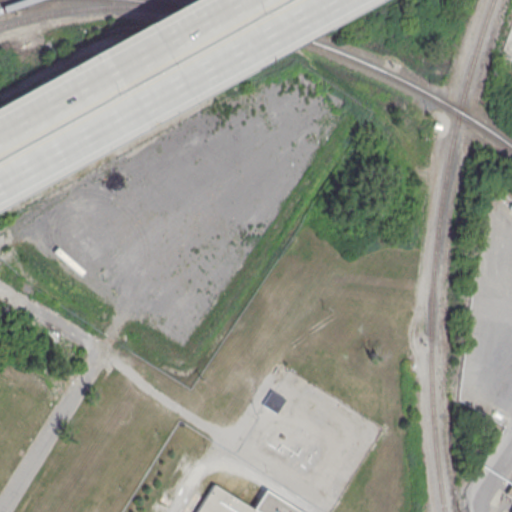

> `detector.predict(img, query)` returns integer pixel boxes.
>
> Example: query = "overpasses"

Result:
[0,0,386,214]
